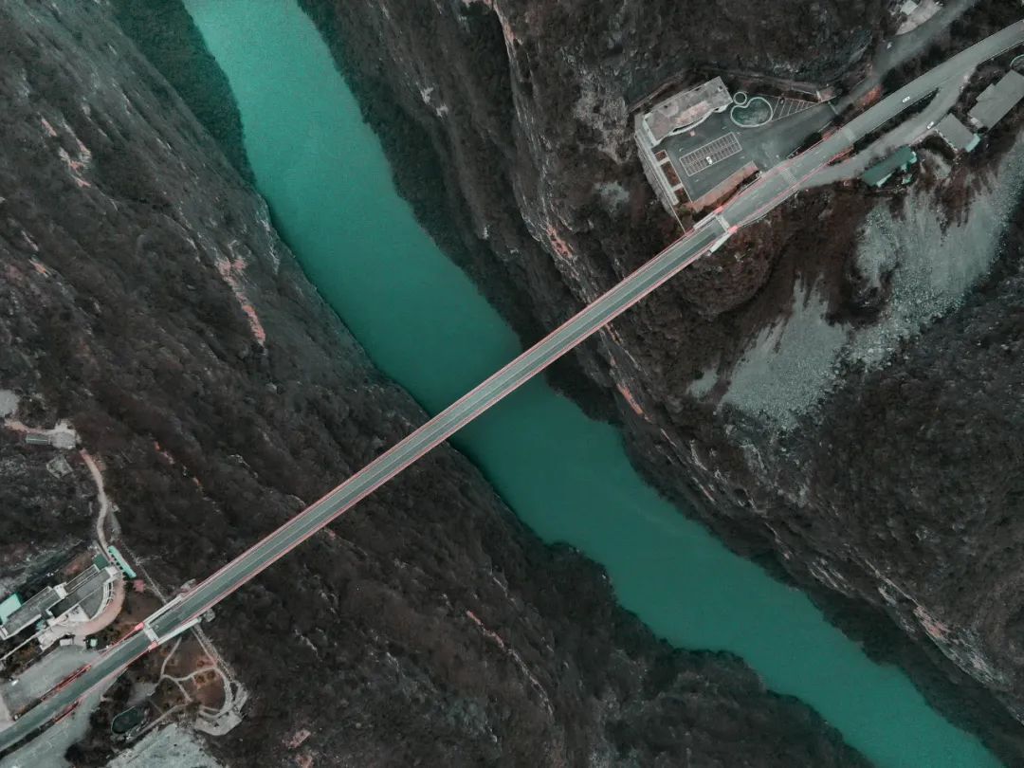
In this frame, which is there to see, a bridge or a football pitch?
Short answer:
bridge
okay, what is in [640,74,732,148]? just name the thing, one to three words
building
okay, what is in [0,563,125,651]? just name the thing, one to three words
building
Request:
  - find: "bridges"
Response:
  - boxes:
[50,151,832,714]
